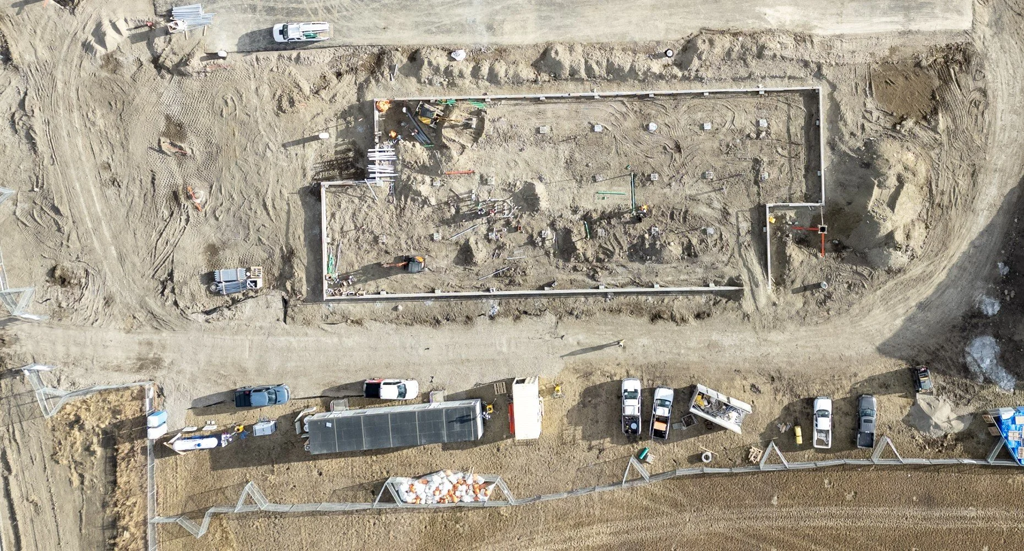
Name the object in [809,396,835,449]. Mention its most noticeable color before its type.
white truck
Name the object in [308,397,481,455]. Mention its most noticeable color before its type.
gray trailer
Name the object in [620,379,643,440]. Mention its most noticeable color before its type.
white truck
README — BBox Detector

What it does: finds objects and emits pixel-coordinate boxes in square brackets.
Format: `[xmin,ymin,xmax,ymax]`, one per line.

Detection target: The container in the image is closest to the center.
[514,378,539,439]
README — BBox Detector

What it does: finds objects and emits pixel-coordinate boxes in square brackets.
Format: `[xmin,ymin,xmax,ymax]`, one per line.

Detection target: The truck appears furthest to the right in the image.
[852,392,879,448]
